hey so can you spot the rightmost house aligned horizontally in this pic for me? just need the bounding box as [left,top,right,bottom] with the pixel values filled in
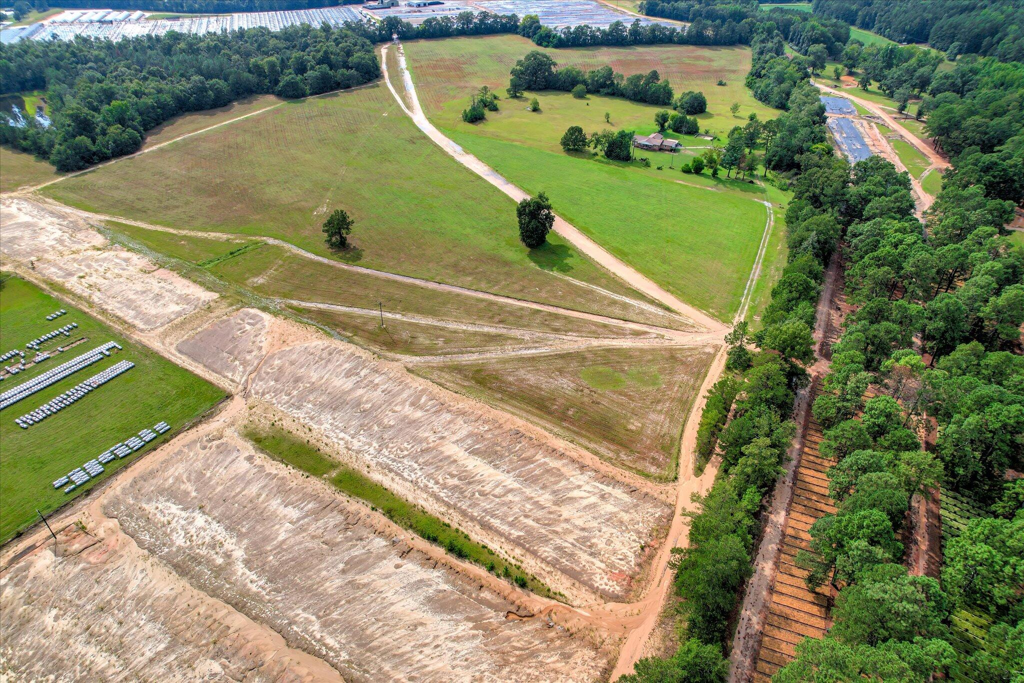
[634,134,680,152]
